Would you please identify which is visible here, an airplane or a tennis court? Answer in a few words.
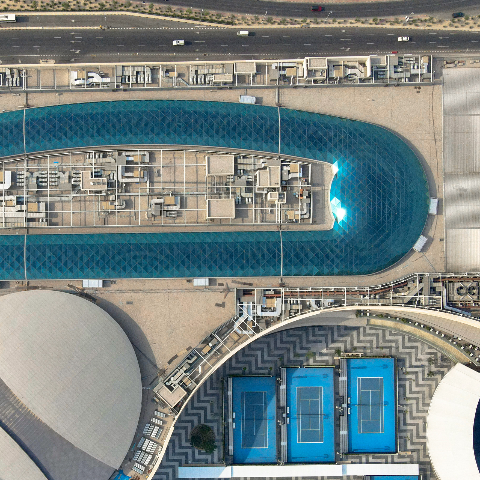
tennis court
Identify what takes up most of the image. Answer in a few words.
buildings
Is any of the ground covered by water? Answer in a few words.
No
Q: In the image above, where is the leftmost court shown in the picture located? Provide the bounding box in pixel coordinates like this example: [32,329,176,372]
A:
[232,377,276,464]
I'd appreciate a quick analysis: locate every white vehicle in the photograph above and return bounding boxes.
[236,31,249,37]
[173,40,184,46]
[397,37,409,42]
[0,14,16,24]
